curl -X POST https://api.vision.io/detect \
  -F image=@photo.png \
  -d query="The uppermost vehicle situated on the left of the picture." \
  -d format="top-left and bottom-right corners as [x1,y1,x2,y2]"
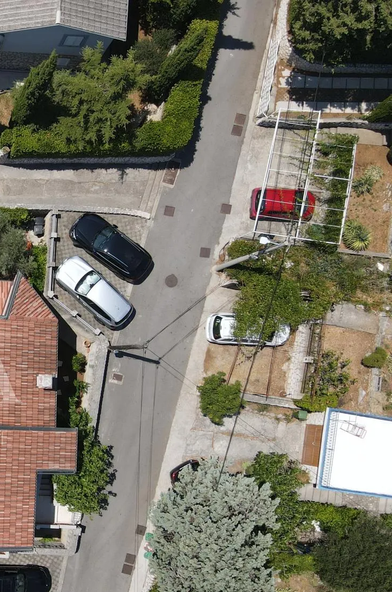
[66,210,159,286]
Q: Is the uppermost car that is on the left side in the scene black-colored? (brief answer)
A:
Yes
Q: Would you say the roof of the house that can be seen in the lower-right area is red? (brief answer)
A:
No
